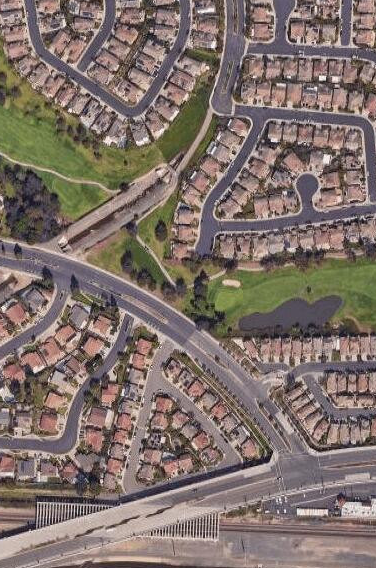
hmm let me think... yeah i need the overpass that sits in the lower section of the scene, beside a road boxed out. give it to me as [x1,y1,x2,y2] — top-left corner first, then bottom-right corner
[0,460,276,568]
